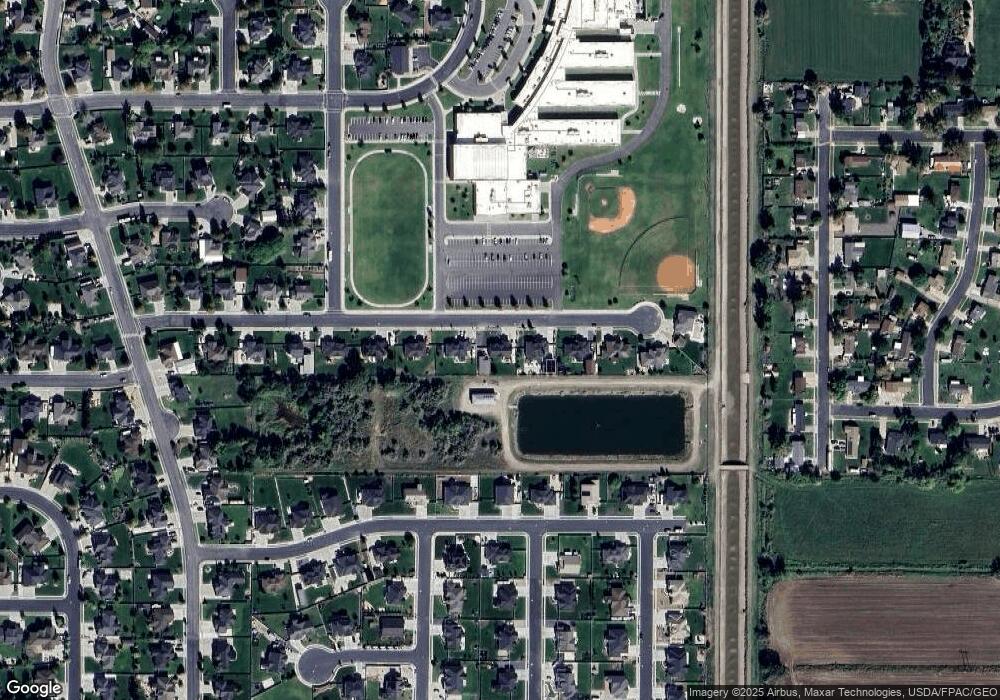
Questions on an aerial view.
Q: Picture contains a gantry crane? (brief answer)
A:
No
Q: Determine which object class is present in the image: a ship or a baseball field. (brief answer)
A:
baseball field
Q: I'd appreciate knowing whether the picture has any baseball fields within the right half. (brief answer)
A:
Yes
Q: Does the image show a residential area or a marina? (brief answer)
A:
residential area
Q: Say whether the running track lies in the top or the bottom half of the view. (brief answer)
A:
top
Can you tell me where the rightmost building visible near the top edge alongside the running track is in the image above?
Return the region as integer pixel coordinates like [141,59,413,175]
[451,0,641,217]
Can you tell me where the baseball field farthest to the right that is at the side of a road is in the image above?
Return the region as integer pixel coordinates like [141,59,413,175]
[620,218,694,292]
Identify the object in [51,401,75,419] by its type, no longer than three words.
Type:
house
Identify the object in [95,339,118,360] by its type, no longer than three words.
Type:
house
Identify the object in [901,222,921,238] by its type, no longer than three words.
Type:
shed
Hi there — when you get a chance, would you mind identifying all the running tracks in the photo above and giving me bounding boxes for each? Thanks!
[350,149,429,307]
